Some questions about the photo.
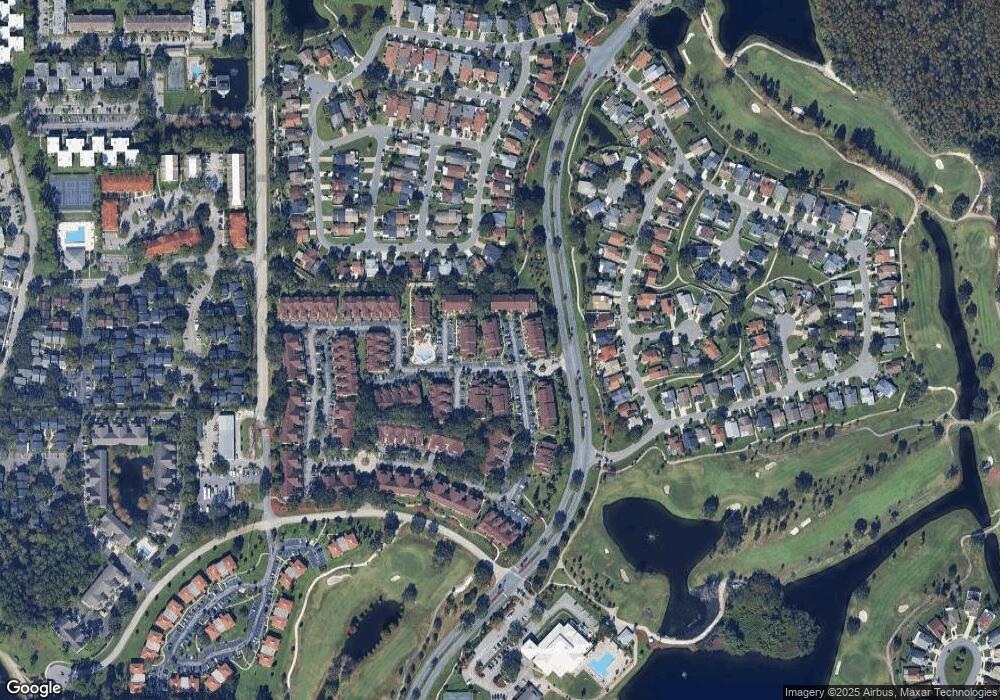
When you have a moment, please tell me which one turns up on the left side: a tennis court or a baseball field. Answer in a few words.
tennis court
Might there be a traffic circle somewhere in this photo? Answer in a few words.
Yes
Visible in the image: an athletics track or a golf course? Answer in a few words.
golf course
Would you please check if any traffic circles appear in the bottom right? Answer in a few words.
Yes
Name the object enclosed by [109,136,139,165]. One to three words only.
building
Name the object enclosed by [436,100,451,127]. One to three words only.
house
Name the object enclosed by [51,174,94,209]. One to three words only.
tennis court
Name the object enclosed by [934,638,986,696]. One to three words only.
roundabout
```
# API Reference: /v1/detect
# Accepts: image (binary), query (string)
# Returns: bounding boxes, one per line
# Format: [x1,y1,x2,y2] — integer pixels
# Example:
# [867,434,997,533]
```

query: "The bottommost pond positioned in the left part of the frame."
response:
[344,599,402,661]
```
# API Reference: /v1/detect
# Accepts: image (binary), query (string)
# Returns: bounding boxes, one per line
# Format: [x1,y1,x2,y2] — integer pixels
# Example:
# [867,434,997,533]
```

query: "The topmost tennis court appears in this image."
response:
[167,57,185,90]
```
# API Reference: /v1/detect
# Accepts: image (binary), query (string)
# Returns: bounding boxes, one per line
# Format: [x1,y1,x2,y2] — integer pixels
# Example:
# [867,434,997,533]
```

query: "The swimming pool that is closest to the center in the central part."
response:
[411,334,434,364]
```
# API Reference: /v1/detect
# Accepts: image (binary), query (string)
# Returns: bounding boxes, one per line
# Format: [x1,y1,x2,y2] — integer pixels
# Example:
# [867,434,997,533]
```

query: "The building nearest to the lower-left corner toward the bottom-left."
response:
[54,611,88,648]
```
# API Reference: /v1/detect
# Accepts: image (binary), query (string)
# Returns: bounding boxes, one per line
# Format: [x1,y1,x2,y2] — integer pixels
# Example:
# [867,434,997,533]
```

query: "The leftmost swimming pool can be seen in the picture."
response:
[58,222,94,251]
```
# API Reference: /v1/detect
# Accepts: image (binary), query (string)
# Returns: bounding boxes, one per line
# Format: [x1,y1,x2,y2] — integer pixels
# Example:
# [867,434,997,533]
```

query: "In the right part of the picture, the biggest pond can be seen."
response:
[603,497,724,639]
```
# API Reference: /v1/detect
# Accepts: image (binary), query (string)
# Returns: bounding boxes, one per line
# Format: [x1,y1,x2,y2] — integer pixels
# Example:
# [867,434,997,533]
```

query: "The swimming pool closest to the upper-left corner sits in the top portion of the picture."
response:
[188,58,205,80]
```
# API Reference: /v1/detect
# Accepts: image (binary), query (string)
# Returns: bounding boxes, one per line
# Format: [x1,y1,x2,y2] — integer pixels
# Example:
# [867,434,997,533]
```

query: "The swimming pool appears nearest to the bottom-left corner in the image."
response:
[137,538,157,560]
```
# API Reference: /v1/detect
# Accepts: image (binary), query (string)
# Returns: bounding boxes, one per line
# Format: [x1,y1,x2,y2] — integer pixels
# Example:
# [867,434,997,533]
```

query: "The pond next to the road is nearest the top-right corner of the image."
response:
[647,9,690,78]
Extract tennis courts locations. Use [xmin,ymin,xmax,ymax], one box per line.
[51,174,94,209]
[167,57,185,90]
[443,692,473,700]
